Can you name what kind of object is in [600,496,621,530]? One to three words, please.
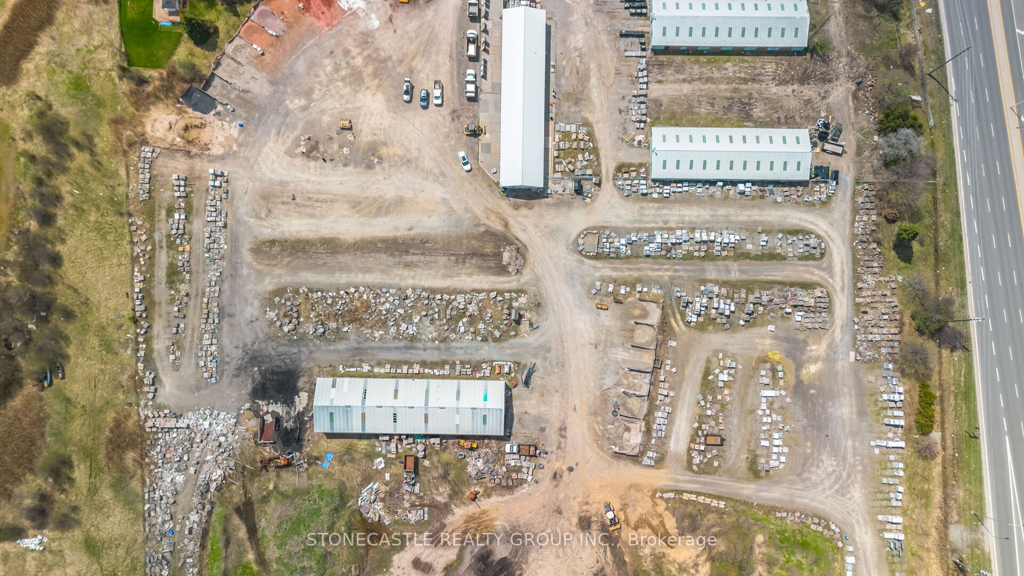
work vehicle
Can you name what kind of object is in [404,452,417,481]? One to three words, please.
vehicle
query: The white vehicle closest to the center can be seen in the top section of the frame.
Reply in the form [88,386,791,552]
[457,151,472,174]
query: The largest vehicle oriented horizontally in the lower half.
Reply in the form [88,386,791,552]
[505,443,537,456]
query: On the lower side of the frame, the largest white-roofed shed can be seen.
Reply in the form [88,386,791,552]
[314,377,504,436]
